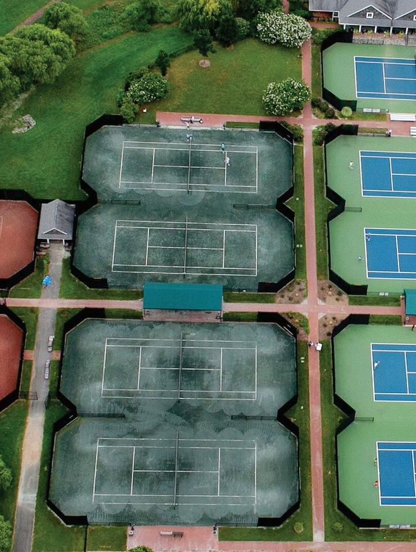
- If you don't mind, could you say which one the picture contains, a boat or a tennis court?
tennis court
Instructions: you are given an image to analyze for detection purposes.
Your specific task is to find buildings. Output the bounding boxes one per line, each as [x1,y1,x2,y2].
[403,288,416,322]
[144,282,222,317]
[308,0,416,35]
[37,197,77,249]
